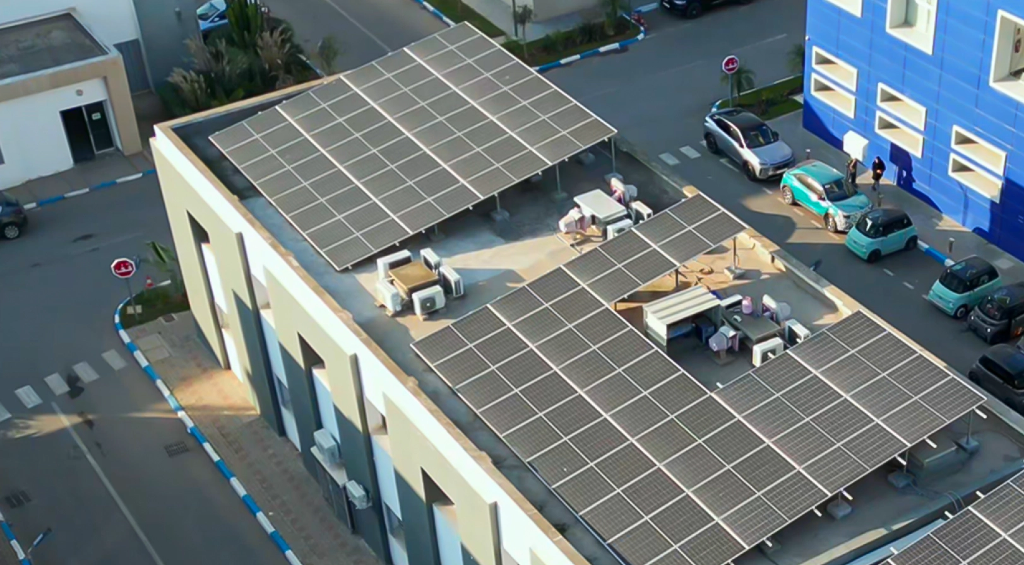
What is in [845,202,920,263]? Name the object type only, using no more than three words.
car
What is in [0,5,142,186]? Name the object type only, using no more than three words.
building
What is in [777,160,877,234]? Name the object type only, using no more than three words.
car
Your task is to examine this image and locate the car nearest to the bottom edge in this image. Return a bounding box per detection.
[969,335,1024,411]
